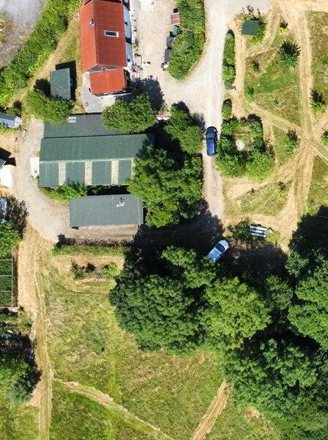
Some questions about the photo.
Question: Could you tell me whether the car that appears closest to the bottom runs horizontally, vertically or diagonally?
diagonally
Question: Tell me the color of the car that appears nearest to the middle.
blue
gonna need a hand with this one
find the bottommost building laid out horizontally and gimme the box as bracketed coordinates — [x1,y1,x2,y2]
[69,195,148,227]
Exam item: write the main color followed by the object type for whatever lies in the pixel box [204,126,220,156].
blue car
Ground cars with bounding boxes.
[204,126,220,156]
[204,238,230,265]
